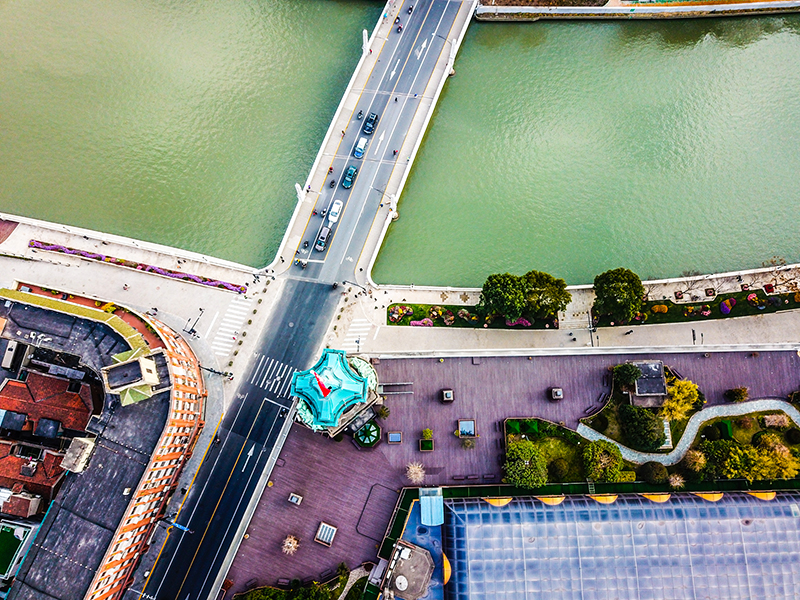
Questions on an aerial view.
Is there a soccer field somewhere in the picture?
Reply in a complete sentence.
No, the scene contains no soccer field.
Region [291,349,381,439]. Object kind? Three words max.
building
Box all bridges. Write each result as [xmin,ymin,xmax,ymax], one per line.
[272,0,479,287]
